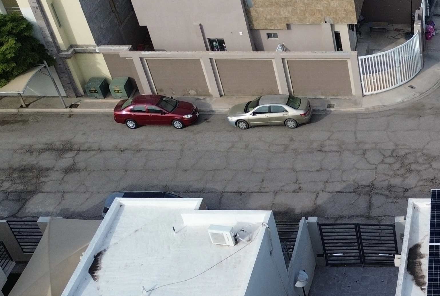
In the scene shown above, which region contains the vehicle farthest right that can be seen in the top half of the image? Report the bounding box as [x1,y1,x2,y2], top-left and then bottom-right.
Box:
[224,94,312,131]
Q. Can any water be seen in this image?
No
